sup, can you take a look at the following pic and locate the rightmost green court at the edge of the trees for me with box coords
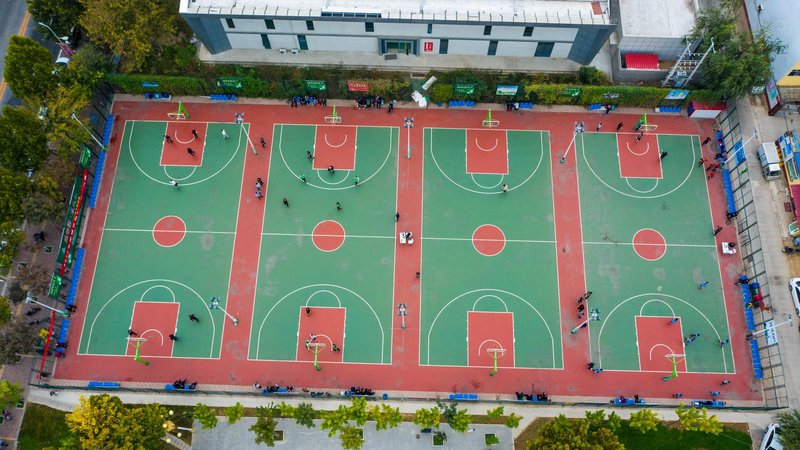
[573,131,737,374]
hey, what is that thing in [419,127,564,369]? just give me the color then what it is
green basketball court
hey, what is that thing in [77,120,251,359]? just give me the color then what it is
green basketball court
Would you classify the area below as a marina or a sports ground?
sports ground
